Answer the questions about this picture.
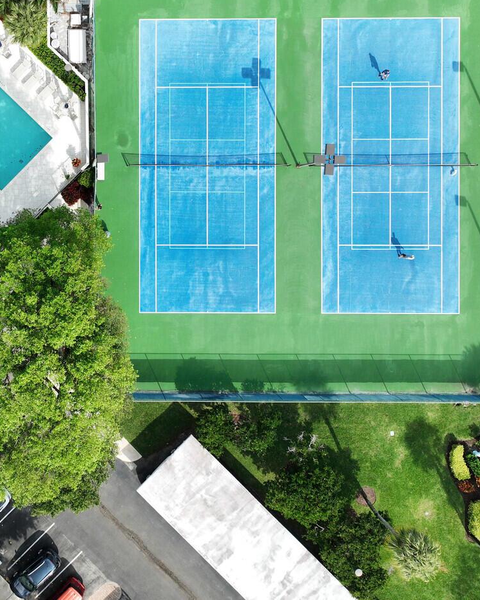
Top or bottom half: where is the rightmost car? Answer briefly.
bottom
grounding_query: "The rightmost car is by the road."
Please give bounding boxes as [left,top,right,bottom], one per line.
[49,575,89,600]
